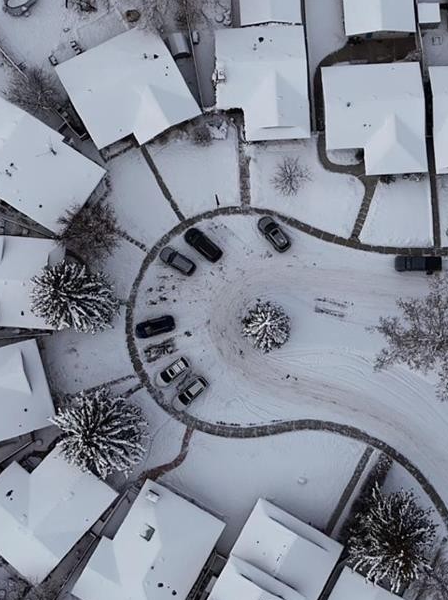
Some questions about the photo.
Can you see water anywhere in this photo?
No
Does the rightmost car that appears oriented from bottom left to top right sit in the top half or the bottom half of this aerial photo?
bottom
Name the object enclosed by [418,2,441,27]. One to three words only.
shed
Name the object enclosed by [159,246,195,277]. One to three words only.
car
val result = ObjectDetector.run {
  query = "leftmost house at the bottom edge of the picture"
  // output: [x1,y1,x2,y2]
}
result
[0,445,119,586]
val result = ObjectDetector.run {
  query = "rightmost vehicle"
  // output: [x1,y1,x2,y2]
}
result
[395,254,444,273]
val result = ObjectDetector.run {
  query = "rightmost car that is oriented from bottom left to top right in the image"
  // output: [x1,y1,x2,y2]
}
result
[173,376,211,409]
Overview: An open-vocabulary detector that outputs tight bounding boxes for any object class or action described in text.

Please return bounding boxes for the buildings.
[213,26,310,141]
[344,0,416,36]
[209,496,344,600]
[0,445,119,586]
[56,28,203,150]
[241,0,302,26]
[428,66,448,174]
[0,339,55,440]
[327,562,409,600]
[321,62,428,175]
[0,98,107,234]
[0,236,66,329]
[418,2,441,27]
[71,479,226,600]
